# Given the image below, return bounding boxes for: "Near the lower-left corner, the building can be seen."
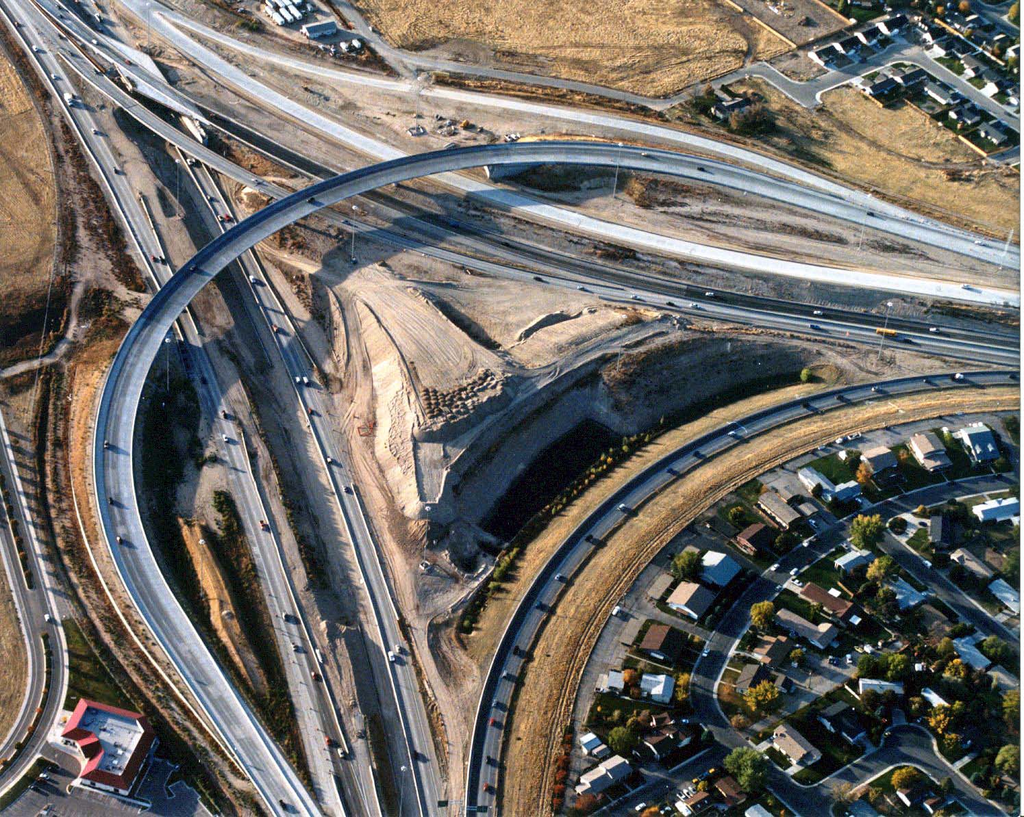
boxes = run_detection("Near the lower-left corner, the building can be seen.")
[62,699,157,794]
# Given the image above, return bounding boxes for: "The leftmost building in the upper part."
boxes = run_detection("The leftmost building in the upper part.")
[300,21,339,38]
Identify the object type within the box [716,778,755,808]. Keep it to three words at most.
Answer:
house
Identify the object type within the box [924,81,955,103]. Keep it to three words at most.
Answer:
house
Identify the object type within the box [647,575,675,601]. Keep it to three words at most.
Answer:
building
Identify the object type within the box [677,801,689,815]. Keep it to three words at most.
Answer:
vehicle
